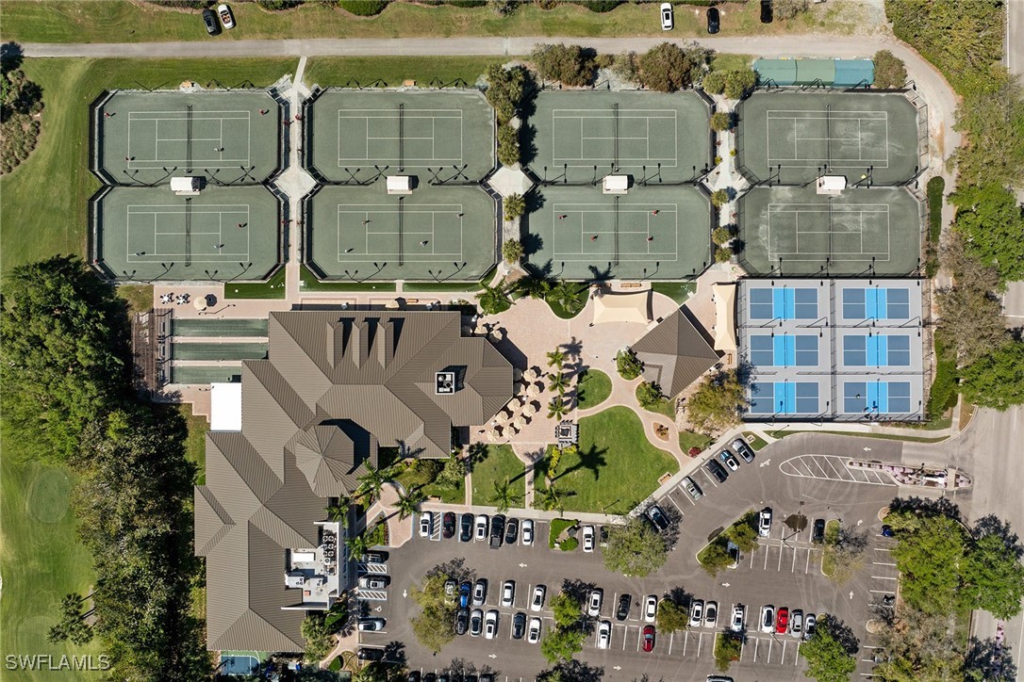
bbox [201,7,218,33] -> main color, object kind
black car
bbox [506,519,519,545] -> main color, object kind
black vehicle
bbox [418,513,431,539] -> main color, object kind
white vehicle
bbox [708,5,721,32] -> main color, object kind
black vehicle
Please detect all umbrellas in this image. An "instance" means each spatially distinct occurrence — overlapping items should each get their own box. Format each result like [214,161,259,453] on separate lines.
[193,296,207,310]
[502,424,516,438]
[489,329,502,342]
[494,410,509,425]
[387,298,400,311]
[474,324,487,336]
[513,368,524,382]
[507,398,521,412]
[462,324,474,336]
[513,416,527,430]
[522,403,536,416]
[487,429,500,442]
[527,384,539,397]
[513,382,526,396]
[524,367,538,381]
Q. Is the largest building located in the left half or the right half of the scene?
left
